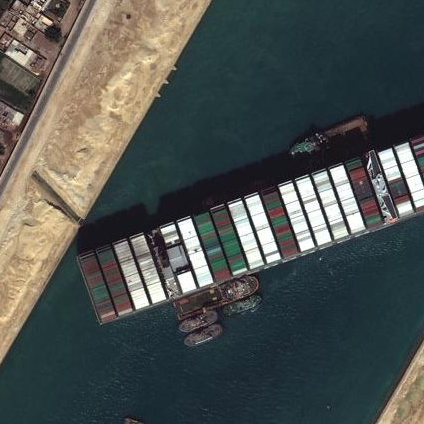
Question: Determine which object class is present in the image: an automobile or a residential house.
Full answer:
The one in the frame is a residential house.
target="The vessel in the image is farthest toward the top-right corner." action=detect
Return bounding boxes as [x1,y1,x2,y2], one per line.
[289,117,370,161]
